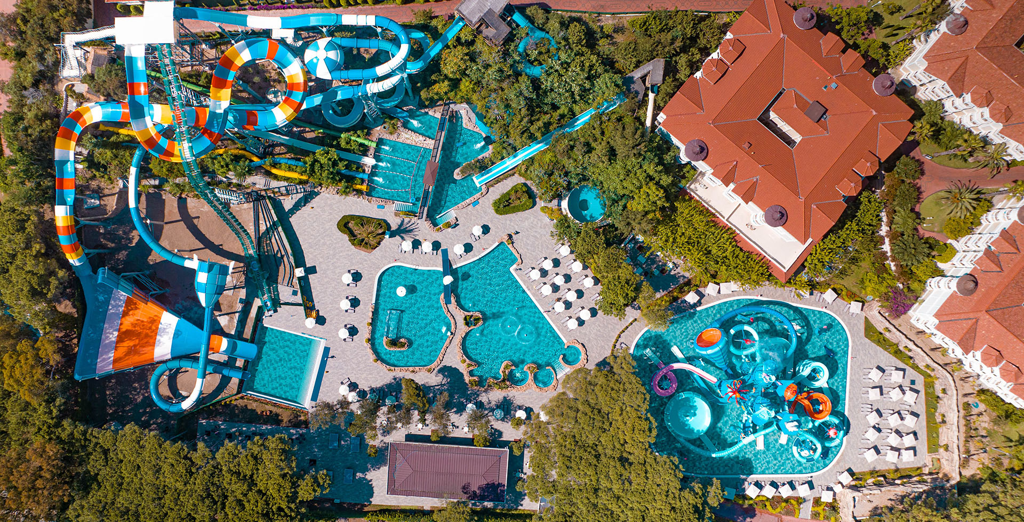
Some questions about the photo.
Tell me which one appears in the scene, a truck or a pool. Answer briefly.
pool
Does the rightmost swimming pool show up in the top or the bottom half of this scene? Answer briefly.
bottom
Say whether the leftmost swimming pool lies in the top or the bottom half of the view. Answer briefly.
bottom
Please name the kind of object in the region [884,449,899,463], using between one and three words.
umbrella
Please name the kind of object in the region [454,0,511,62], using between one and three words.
shed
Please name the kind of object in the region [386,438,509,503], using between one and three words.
building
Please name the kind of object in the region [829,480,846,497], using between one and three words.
umbrella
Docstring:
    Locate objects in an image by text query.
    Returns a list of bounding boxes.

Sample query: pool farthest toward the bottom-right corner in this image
[634,300,846,472]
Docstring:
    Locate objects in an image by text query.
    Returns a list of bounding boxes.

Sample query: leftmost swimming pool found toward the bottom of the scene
[247,327,321,406]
